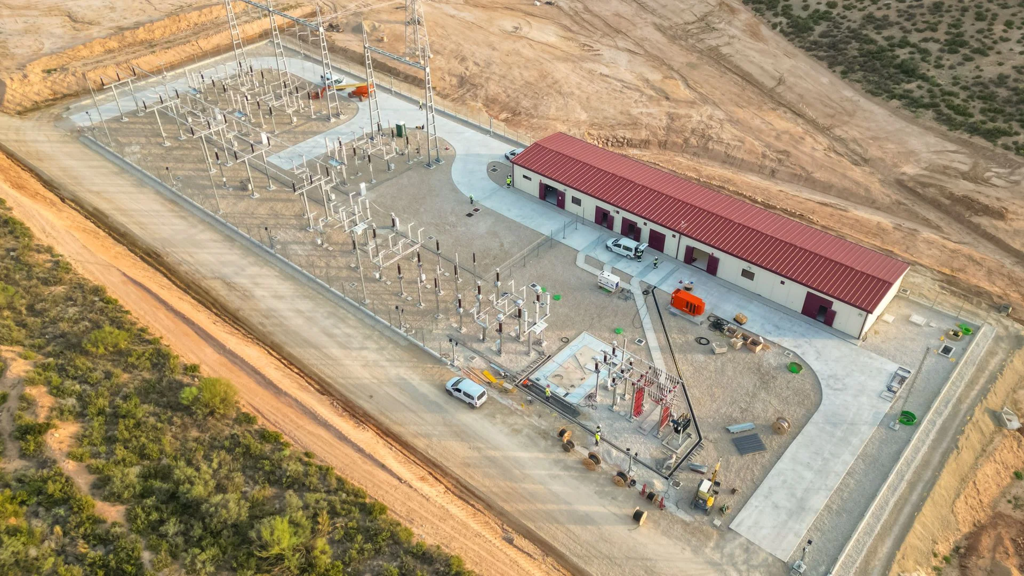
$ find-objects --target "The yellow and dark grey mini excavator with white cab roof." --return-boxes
[690,461,725,511]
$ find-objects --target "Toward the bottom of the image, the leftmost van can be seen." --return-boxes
[446,375,489,411]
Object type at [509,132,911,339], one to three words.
building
